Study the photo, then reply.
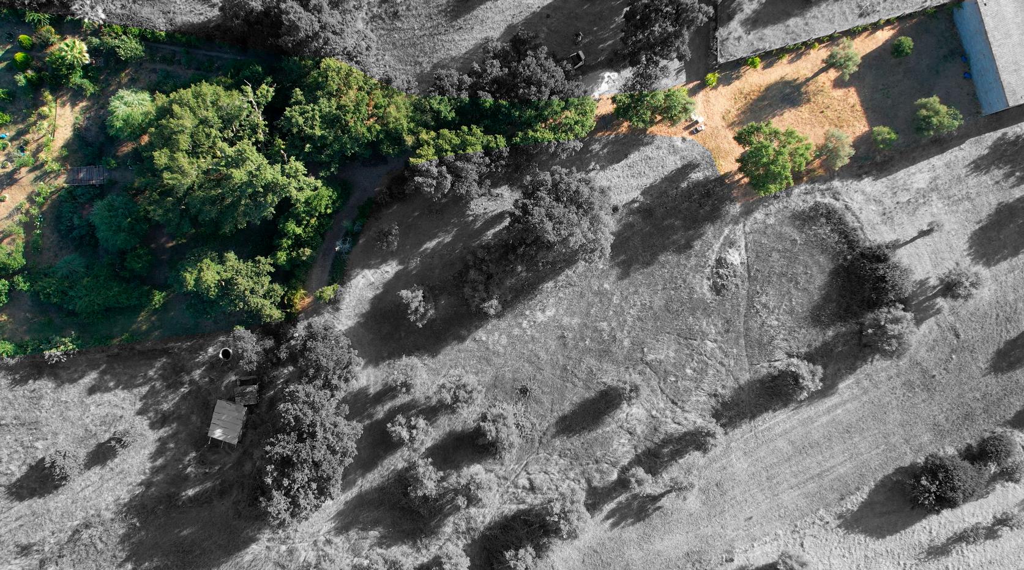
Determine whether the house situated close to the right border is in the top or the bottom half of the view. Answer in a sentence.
The house situated close to the right border is in the top half of the image.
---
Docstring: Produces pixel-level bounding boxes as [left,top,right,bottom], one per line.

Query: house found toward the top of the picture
[955,0,1024,115]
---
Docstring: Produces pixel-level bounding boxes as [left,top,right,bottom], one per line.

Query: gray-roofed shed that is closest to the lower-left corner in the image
[205,397,256,452]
